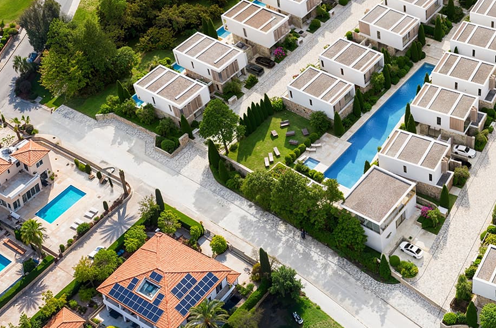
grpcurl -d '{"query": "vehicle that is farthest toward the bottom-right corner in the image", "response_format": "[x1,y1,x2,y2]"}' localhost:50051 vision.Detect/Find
[399,240,424,257]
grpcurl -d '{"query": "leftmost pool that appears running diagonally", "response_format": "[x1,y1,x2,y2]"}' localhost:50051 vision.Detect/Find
[32,184,91,226]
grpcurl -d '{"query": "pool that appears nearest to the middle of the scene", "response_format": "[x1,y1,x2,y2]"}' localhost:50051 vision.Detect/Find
[301,154,323,169]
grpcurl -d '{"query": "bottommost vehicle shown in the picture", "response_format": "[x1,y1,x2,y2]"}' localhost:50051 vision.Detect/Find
[290,309,304,325]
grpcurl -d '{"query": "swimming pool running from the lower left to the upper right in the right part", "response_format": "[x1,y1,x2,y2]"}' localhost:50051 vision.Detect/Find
[323,61,436,189]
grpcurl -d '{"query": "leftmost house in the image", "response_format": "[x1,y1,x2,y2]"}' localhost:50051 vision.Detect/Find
[0,139,58,210]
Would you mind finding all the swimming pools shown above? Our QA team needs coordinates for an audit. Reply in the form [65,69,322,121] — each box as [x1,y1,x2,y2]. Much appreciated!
[0,252,19,291]
[170,61,188,74]
[212,27,233,39]
[127,91,145,108]
[32,184,91,226]
[323,61,436,189]
[301,154,323,169]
